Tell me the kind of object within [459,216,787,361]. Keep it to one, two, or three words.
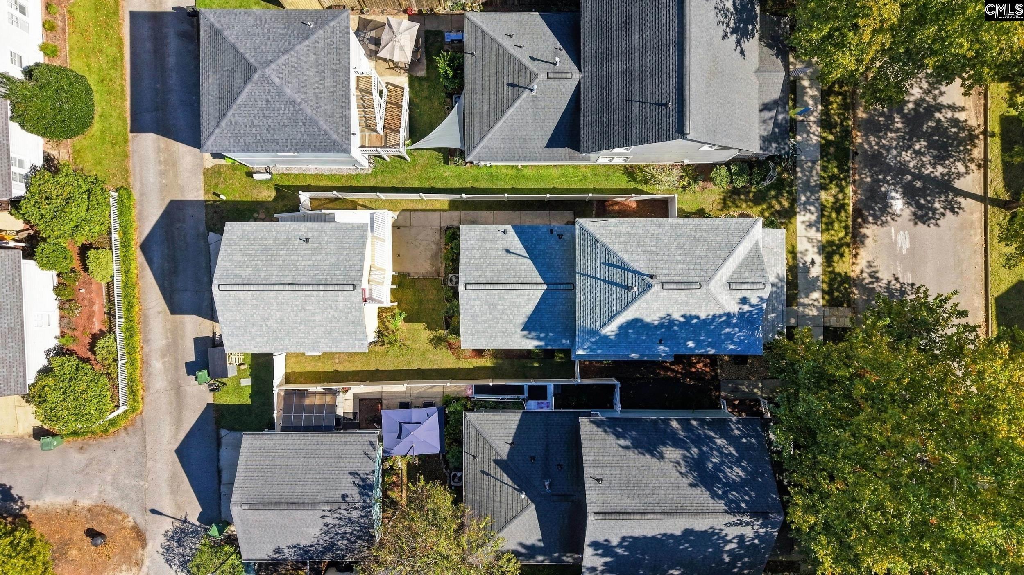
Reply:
house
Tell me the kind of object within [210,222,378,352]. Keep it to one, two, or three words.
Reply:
building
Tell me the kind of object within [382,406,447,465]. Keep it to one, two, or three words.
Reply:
umbrella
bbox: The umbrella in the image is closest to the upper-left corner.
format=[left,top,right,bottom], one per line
[377,16,420,64]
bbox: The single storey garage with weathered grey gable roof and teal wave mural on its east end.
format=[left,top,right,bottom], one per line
[229,429,384,564]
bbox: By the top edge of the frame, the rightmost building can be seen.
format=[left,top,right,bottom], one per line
[463,0,790,170]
